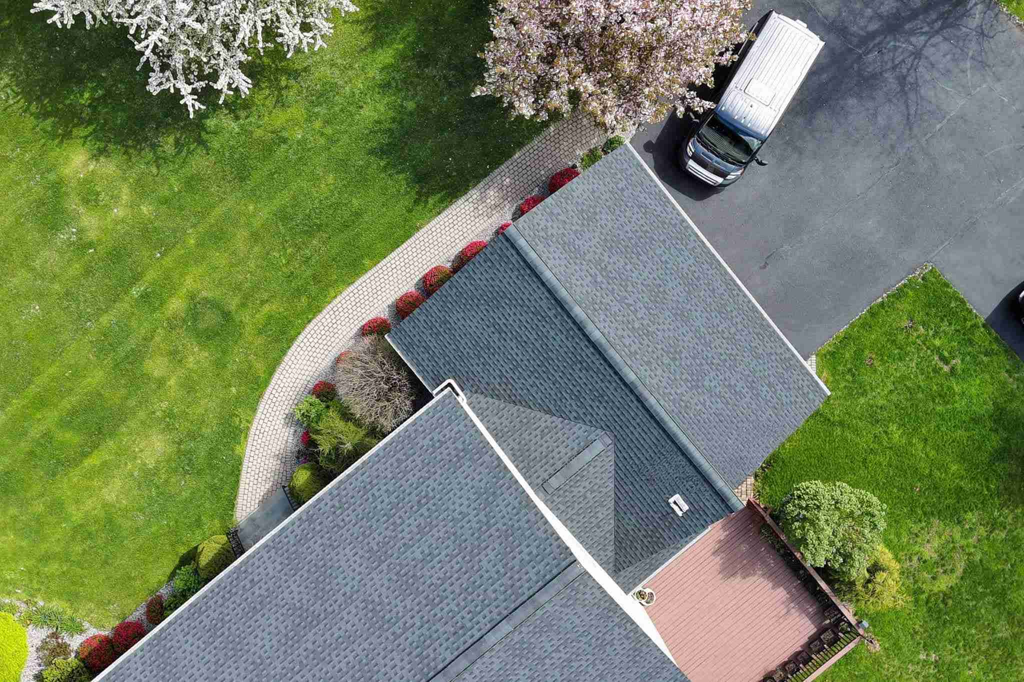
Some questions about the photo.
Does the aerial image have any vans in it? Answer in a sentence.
Yes, the image includes a van.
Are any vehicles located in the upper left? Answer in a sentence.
No, I can find no vehicle in the upper left.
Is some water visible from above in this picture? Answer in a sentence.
No, no water is visible.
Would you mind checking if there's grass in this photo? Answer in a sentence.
Yes, the picture does contain grass.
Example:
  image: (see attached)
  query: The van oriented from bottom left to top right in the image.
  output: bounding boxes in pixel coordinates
[682,14,821,192]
